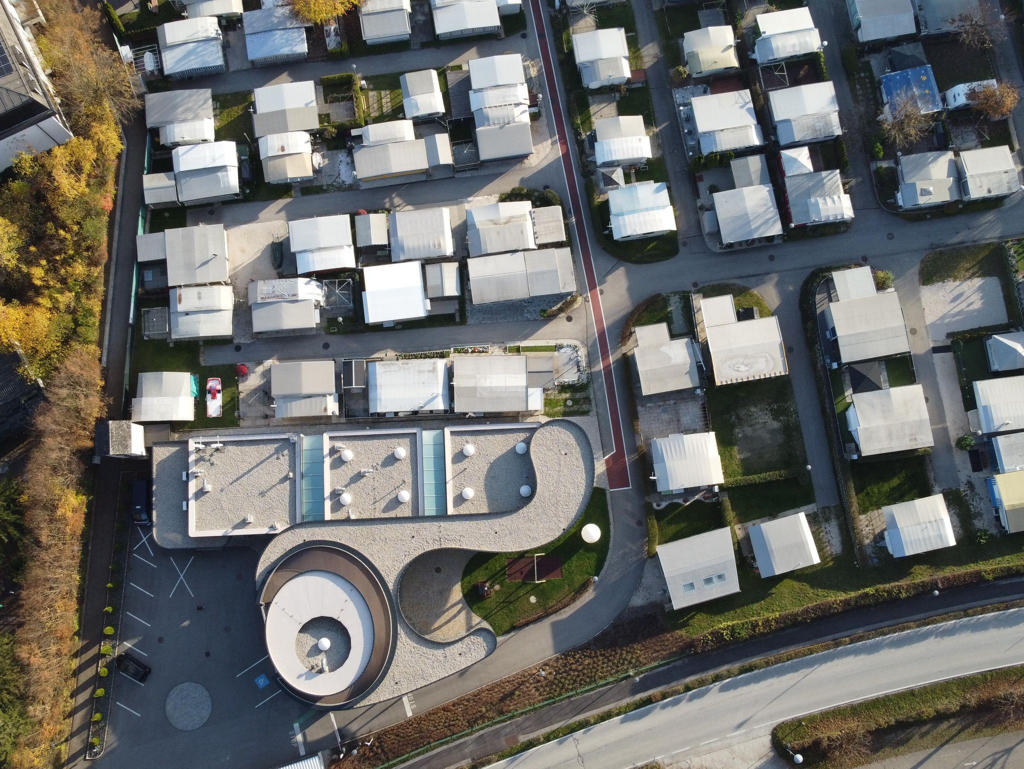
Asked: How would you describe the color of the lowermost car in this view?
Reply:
black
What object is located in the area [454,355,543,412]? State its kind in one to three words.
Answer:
house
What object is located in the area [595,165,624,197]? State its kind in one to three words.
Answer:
gazebo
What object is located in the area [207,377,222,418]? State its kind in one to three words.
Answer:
boat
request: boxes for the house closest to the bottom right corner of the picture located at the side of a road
[655,526,740,610]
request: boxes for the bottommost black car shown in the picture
[112,651,155,684]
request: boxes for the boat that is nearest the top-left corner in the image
[144,52,158,74]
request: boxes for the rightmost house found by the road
[823,267,911,363]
